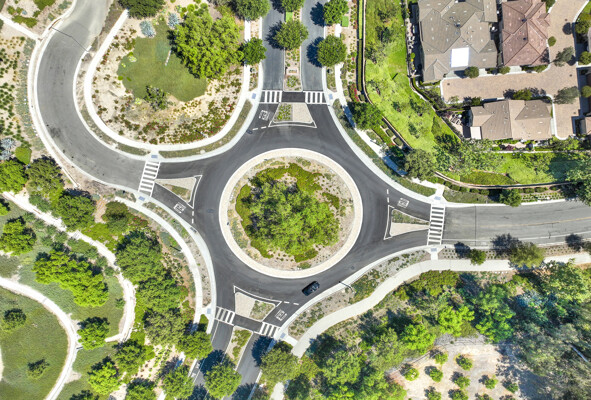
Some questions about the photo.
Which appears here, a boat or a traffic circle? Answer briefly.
traffic circle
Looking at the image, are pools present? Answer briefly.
No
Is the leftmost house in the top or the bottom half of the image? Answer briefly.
top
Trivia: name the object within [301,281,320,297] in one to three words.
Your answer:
car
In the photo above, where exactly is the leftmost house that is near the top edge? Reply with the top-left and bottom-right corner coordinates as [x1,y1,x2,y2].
[417,0,497,83]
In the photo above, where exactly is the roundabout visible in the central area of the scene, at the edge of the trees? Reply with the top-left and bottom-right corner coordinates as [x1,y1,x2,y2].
[138,91,431,337]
